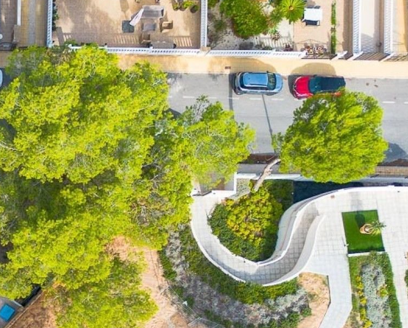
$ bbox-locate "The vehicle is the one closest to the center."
[231,67,280,97]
